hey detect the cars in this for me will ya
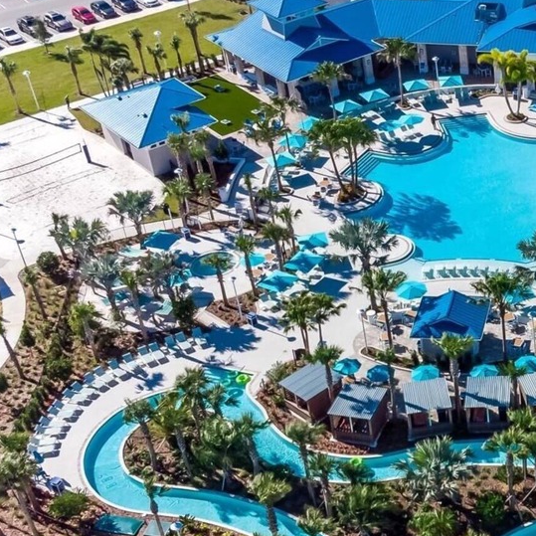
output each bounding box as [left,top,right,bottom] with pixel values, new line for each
[108,0,137,9]
[40,3,72,29]
[9,10,38,35]
[65,2,98,23]
[85,0,118,17]
[0,22,24,44]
